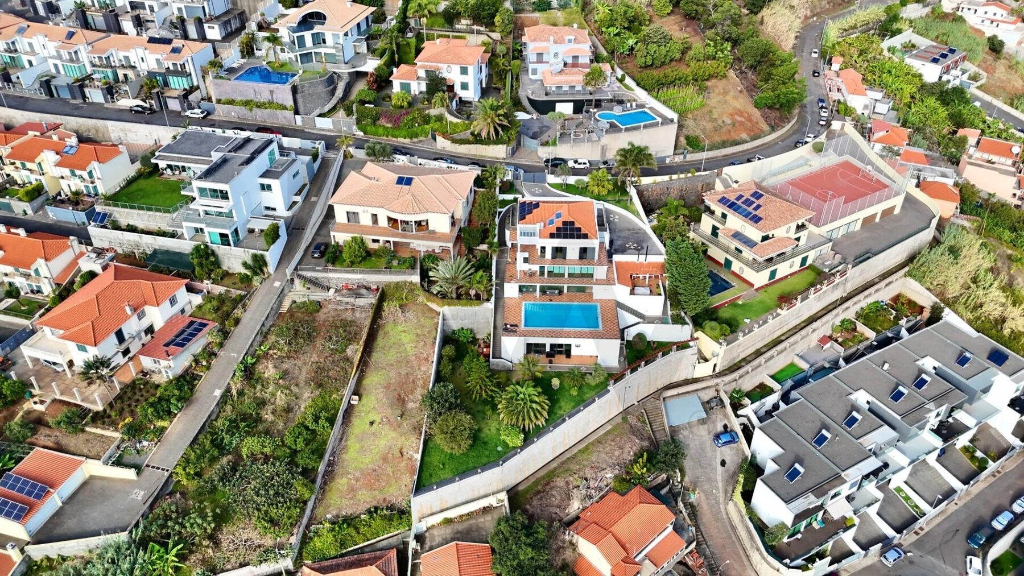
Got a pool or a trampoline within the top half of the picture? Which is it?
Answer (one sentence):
What appears within the top half of the picture is a pool.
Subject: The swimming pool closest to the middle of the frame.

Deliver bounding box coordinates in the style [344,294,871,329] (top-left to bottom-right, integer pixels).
[525,304,599,328]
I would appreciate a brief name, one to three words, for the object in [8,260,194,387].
house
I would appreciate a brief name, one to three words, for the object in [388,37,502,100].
house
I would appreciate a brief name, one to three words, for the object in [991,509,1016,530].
car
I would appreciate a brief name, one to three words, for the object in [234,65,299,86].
swimming pool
